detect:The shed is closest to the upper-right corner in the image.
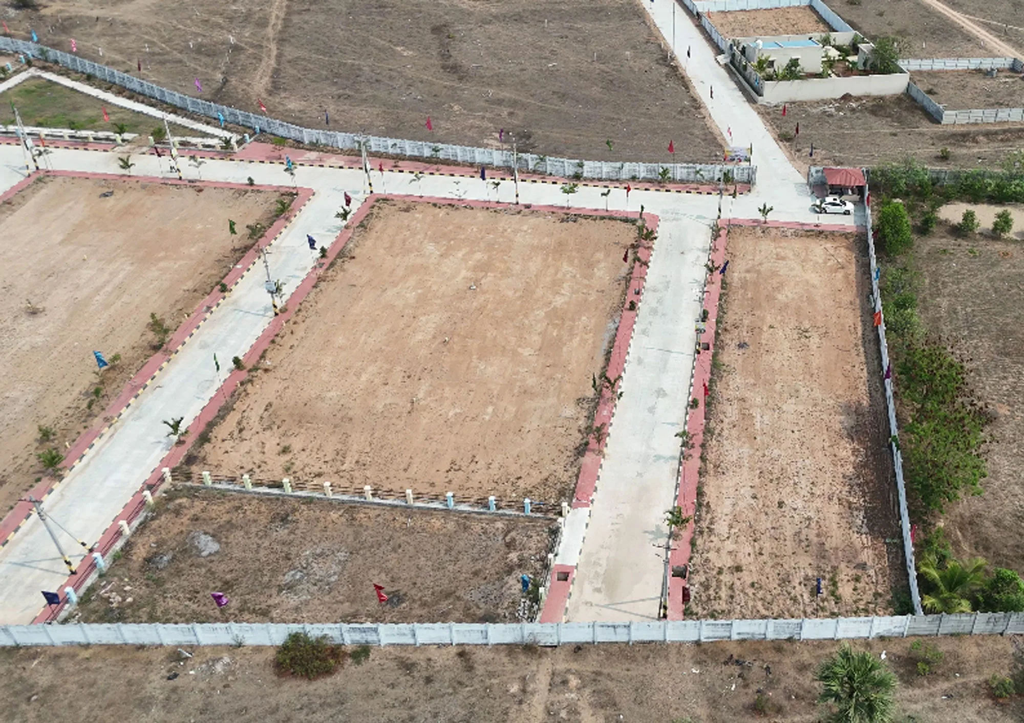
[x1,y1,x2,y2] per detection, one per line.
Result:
[856,43,876,72]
